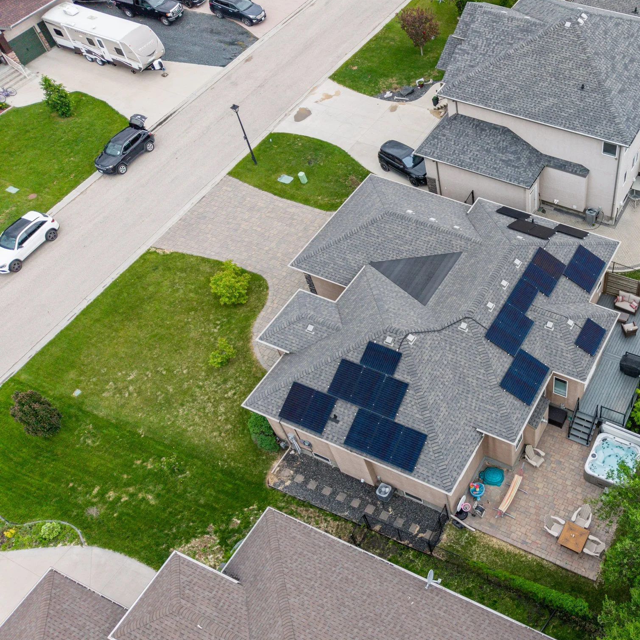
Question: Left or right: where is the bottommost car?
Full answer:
The bottommost car is on the left side of the image.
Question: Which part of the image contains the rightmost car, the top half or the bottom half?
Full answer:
It is in the top half that the rightmost car appears.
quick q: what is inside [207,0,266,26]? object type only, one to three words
car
